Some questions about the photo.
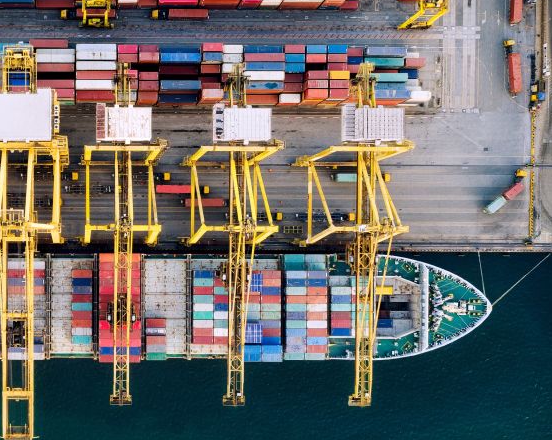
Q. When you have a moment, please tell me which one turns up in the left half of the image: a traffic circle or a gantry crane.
gantry crane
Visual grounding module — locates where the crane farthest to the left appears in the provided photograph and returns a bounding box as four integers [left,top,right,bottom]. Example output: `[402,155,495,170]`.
[0,45,71,440]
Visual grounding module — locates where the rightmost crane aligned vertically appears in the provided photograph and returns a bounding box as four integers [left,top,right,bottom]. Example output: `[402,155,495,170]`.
[294,64,417,405]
